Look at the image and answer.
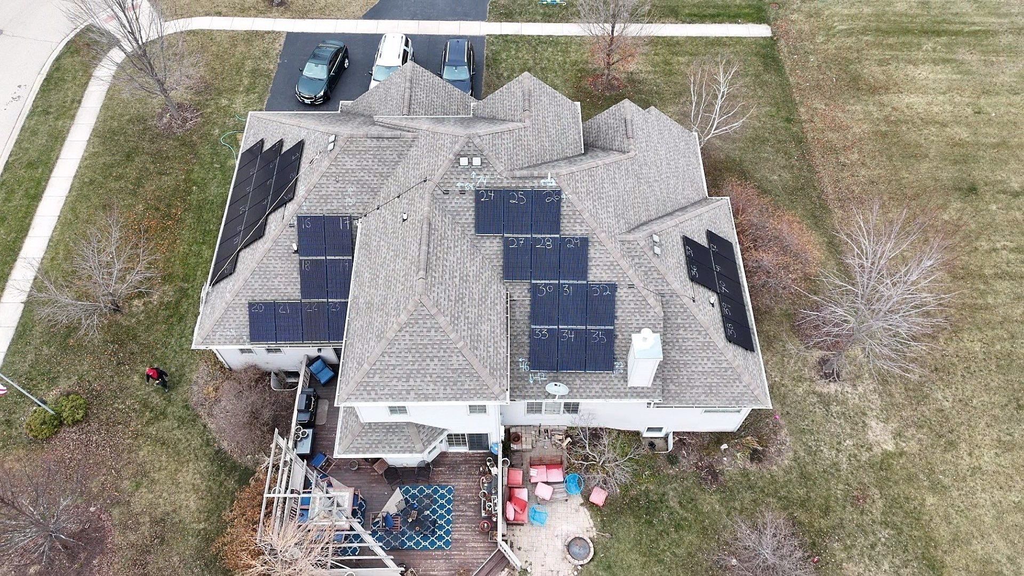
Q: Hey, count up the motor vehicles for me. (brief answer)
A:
three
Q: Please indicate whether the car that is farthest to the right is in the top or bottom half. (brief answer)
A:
top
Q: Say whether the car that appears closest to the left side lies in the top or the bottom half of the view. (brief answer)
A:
top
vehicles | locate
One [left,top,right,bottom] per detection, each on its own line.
[366,26,412,85]
[436,32,476,91]
[293,35,349,106]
